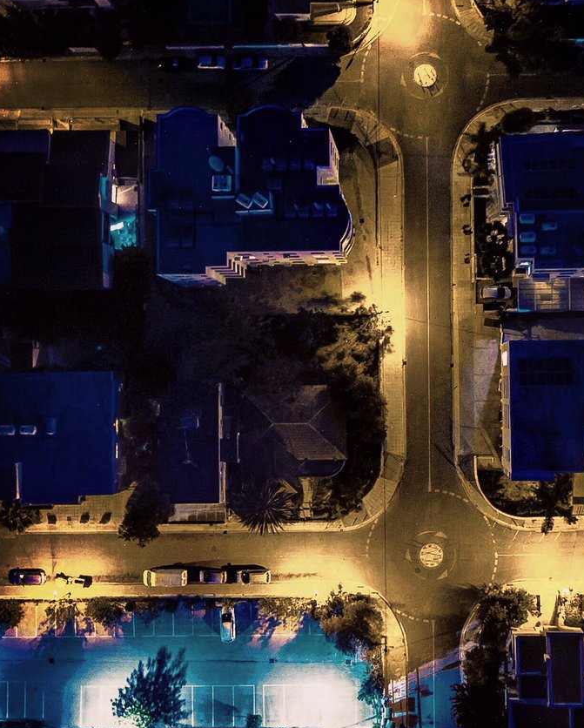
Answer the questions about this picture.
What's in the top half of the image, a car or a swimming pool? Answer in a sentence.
What appears in the top half of the image is a car.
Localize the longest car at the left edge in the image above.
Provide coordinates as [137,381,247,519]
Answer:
[10,570,47,587]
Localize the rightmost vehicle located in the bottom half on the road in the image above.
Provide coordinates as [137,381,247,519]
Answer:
[236,568,272,585]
